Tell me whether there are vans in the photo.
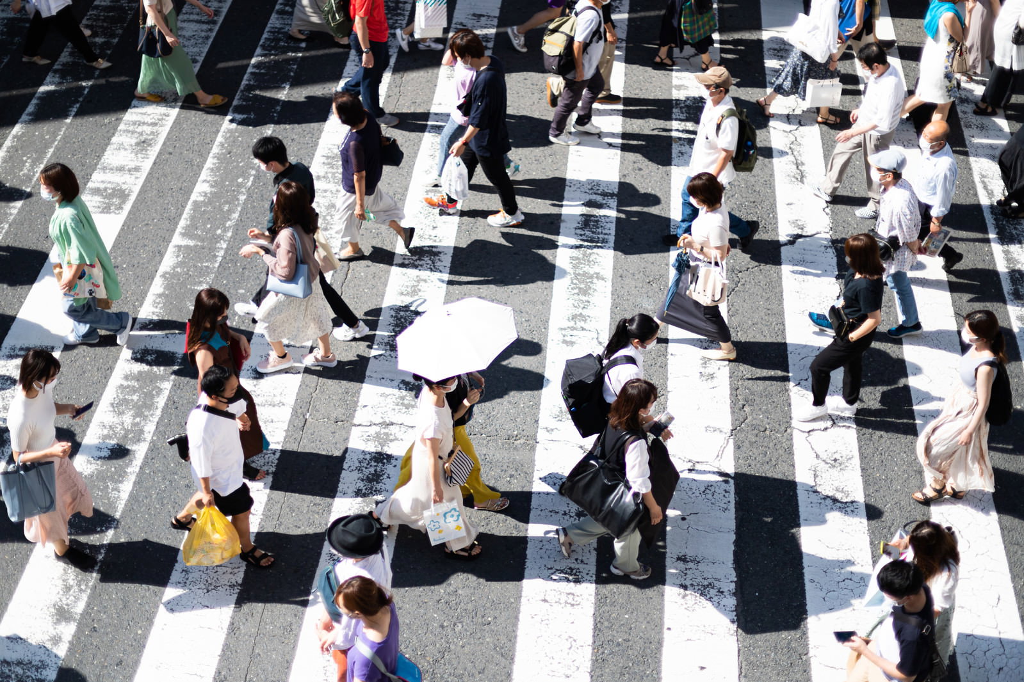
No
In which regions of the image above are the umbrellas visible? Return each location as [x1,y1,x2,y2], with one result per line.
[664,234,689,318]
[395,299,519,383]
